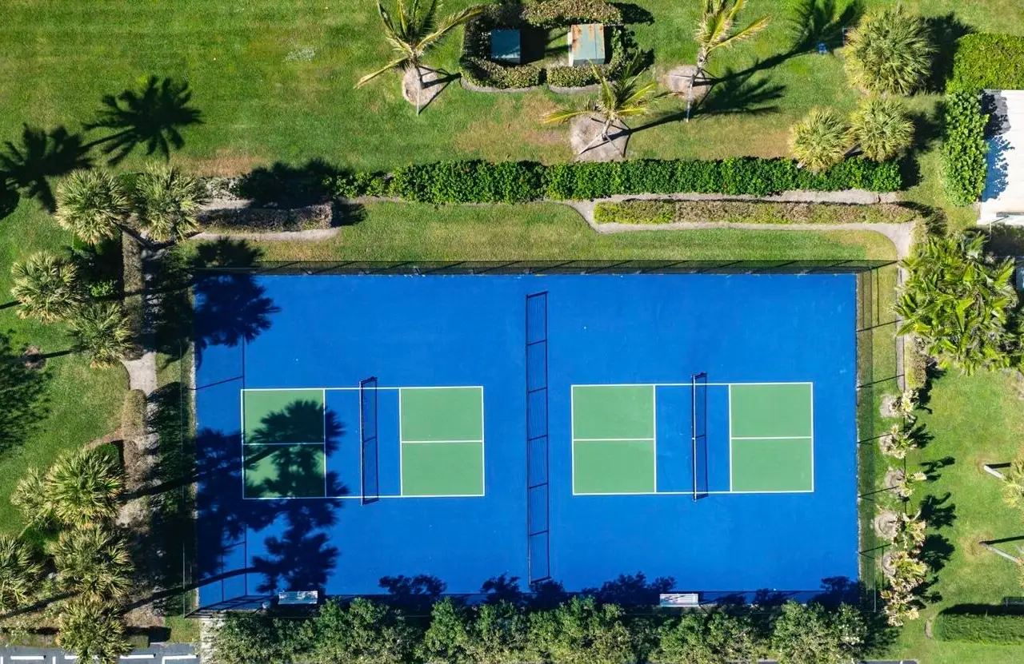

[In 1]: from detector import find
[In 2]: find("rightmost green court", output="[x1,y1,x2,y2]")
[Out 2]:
[571,382,815,496]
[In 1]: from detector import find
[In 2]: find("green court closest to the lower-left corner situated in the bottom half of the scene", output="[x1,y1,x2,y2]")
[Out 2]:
[241,386,485,500]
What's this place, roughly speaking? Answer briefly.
sports ground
